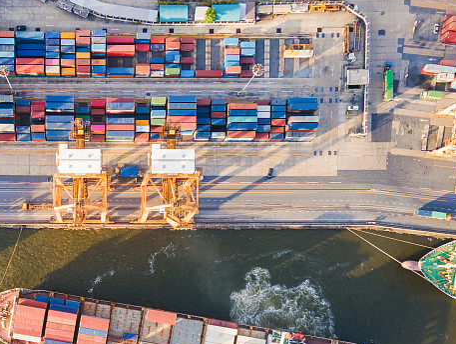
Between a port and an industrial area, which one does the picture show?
port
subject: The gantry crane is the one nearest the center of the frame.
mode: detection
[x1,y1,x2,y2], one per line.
[129,120,205,231]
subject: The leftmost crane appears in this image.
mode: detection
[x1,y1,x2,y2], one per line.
[48,119,117,231]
